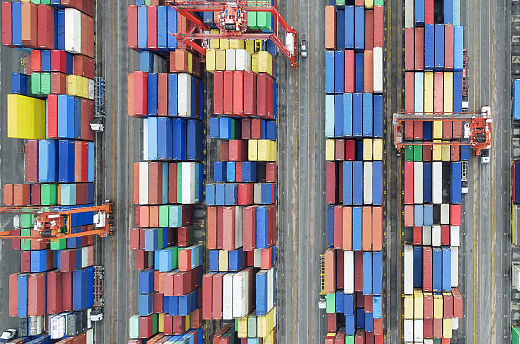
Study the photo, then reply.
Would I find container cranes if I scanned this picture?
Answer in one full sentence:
Yes, the image includes a container crane.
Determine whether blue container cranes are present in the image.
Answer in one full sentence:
No, no blue container crane is visible in the view.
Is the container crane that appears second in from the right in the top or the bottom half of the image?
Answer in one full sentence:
You can find the container crane that appears second in from the right in the top half.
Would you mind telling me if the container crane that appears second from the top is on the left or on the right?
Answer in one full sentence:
You can find the container crane that appears second from the top on the right side of the picture.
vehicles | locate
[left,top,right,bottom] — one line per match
[462,50,470,109]
[462,161,468,192]
[90,267,105,320]
[480,148,490,164]
[300,39,307,58]
[316,256,326,310]
[89,77,104,130]
[1,327,19,340]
